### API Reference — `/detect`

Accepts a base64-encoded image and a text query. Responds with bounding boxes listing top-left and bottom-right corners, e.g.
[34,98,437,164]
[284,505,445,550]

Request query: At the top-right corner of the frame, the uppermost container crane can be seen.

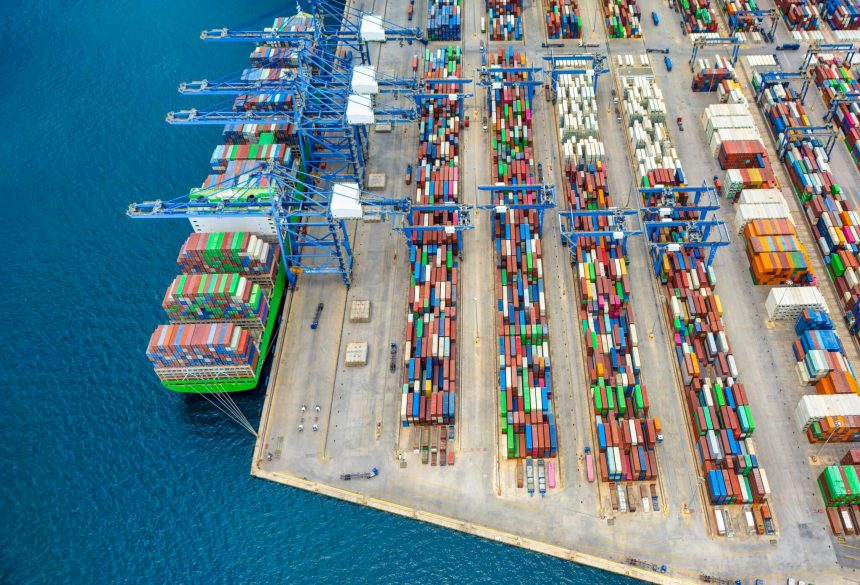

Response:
[729,8,784,44]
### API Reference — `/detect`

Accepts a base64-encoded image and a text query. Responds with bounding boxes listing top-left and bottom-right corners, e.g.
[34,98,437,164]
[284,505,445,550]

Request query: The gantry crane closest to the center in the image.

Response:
[395,189,477,255]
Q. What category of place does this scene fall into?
port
